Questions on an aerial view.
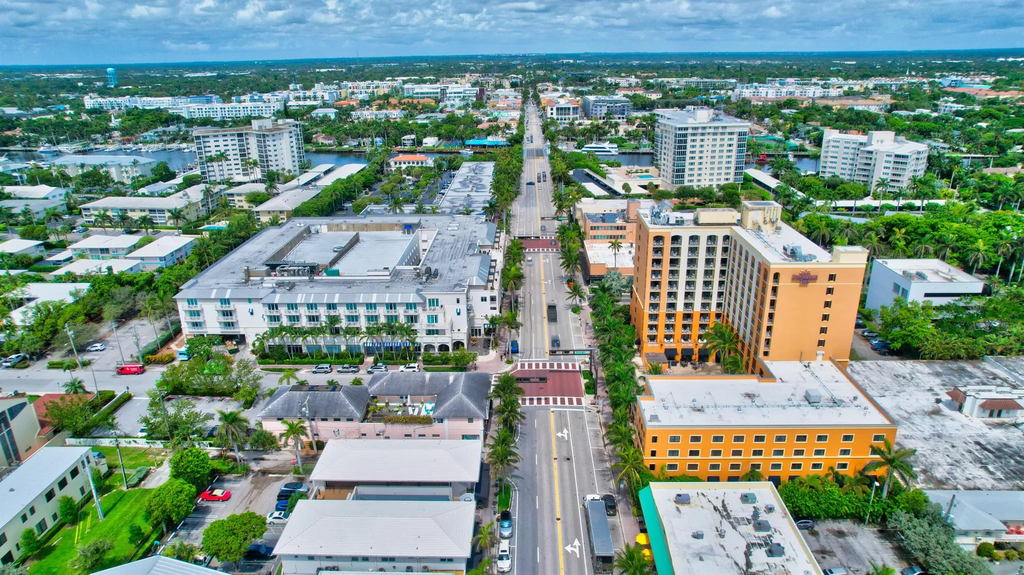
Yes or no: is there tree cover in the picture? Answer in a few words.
Yes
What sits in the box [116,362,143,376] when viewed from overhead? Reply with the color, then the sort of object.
red vehicle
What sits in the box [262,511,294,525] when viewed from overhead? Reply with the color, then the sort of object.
white car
